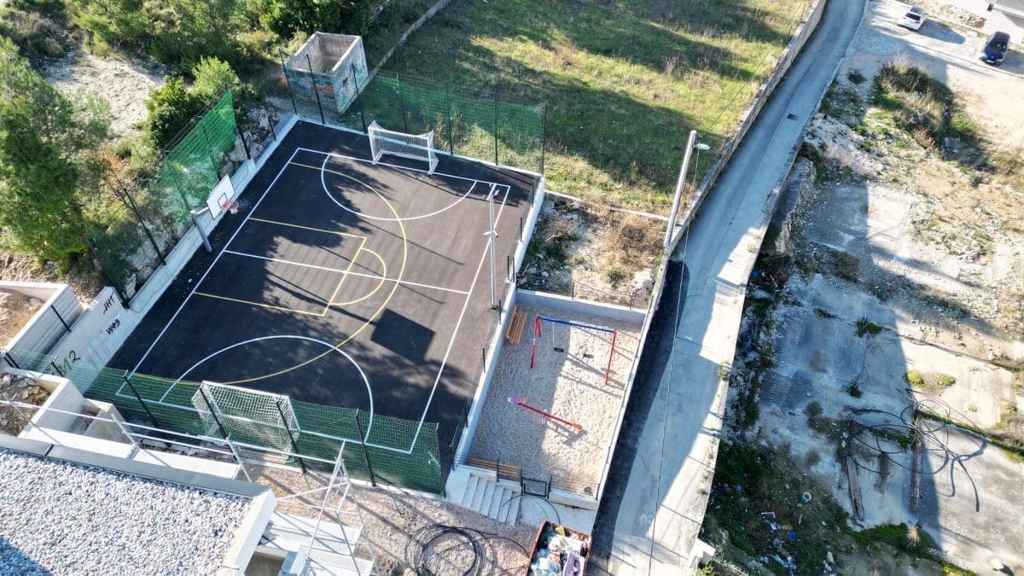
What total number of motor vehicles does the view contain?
2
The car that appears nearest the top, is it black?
No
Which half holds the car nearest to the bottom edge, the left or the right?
right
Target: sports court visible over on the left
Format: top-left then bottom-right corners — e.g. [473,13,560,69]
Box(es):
[78,118,541,497]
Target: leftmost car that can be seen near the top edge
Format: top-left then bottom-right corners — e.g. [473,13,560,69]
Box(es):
[897,2,931,29]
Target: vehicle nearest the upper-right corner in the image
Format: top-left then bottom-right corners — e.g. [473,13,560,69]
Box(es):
[978,31,1014,66]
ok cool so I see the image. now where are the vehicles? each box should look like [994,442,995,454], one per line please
[978,31,1014,66]
[897,2,931,29]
